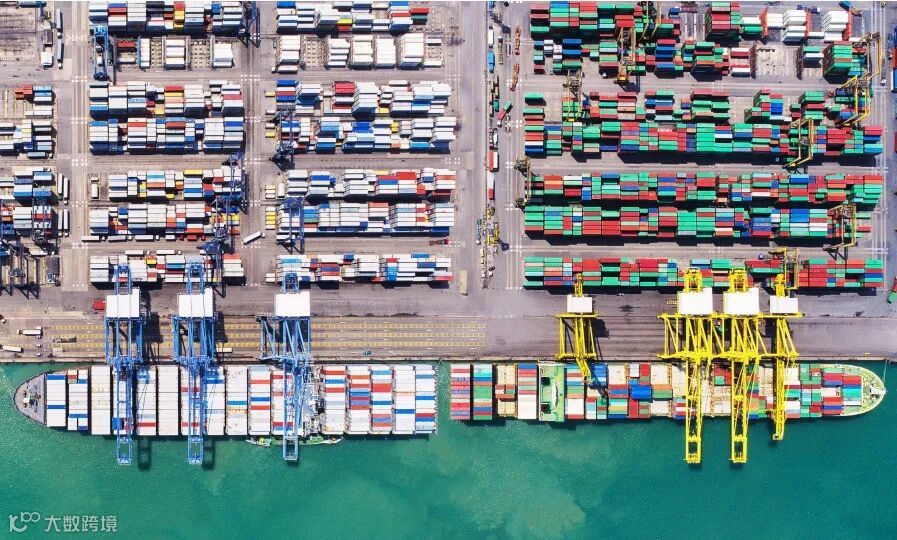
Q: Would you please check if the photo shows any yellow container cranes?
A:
Yes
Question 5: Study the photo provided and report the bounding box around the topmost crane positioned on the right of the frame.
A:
[636,0,661,43]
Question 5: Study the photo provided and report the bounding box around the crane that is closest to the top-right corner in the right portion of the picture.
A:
[853,30,883,83]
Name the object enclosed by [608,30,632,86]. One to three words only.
crane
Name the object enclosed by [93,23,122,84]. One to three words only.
crane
